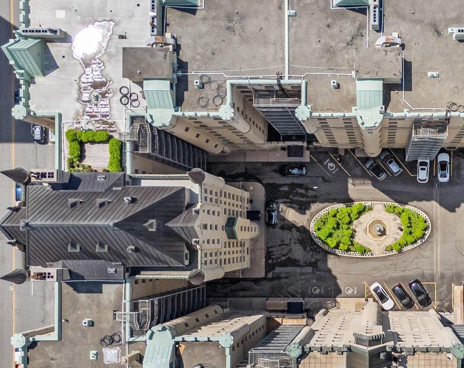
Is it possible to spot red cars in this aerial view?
No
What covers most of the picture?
buildings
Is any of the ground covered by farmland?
No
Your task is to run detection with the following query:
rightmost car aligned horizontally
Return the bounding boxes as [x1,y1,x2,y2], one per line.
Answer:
[277,163,307,177]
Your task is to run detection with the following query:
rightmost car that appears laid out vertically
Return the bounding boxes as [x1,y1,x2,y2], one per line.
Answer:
[436,152,451,183]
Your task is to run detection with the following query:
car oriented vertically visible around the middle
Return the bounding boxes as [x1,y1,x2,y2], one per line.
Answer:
[265,198,279,229]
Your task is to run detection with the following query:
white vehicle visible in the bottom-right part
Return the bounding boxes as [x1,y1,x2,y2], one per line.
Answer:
[369,280,396,312]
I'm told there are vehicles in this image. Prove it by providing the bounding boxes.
[11,82,22,107]
[417,158,431,185]
[390,282,414,312]
[436,152,451,183]
[369,280,396,312]
[364,155,388,184]
[408,279,432,309]
[379,147,403,176]
[30,122,46,149]
[265,198,279,229]
[277,163,307,177]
